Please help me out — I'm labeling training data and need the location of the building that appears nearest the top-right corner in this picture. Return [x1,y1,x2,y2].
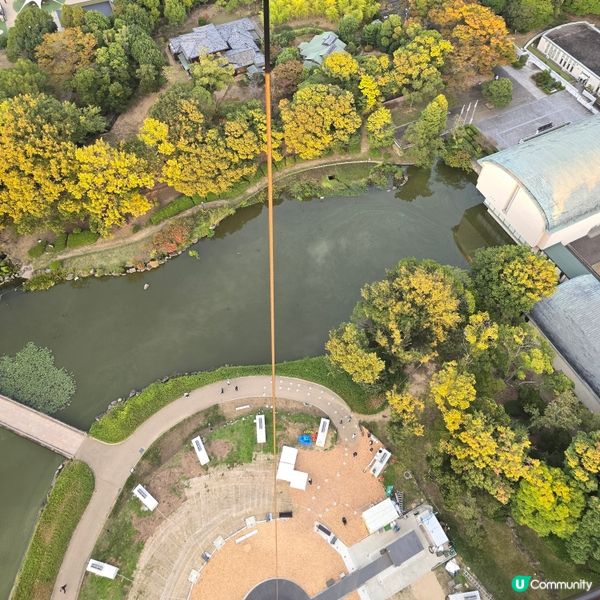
[537,22,600,92]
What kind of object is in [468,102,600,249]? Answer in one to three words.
building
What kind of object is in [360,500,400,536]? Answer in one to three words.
tent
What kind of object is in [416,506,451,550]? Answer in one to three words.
building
